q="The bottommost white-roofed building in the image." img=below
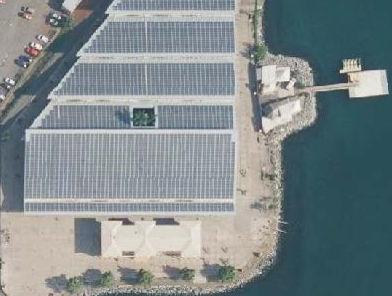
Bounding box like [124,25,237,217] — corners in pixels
[101,220,200,257]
